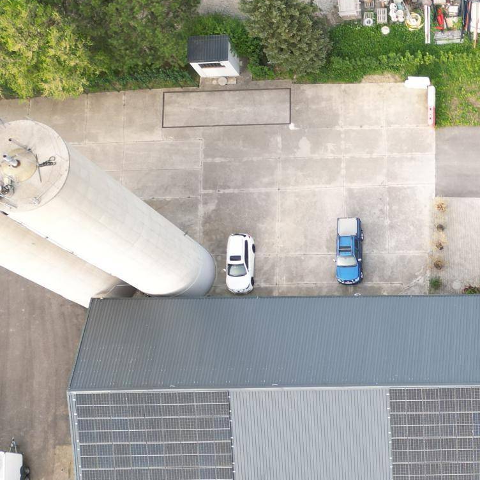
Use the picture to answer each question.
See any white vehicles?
Yes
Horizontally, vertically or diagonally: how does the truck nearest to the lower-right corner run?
vertically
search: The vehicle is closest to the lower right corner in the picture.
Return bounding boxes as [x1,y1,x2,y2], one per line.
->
[333,215,365,286]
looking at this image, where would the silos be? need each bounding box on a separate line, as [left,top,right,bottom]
[0,111,214,294]
[0,208,134,306]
